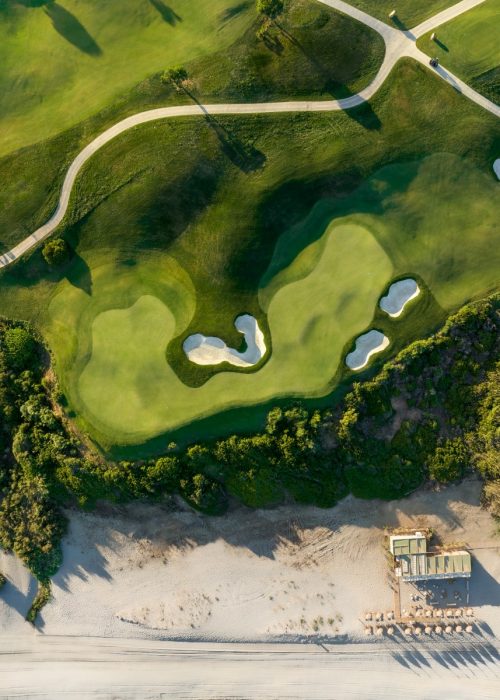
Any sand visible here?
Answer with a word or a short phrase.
Yes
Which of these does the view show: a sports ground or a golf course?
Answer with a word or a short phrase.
golf course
